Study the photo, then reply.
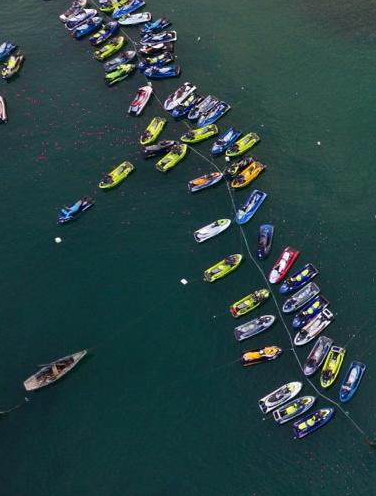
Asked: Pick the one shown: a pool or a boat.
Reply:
boat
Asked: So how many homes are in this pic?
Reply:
zero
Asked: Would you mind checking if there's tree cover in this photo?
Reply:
No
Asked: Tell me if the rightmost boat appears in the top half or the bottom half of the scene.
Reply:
bottom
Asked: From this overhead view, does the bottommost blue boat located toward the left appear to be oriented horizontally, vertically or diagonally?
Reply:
diagonally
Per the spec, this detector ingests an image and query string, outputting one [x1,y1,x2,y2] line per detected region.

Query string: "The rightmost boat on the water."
[341,360,368,403]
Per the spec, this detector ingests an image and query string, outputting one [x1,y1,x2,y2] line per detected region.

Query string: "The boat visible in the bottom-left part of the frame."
[24,350,88,392]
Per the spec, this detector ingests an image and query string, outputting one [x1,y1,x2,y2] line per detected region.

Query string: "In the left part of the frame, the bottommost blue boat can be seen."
[58,196,96,225]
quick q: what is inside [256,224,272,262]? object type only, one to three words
boat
